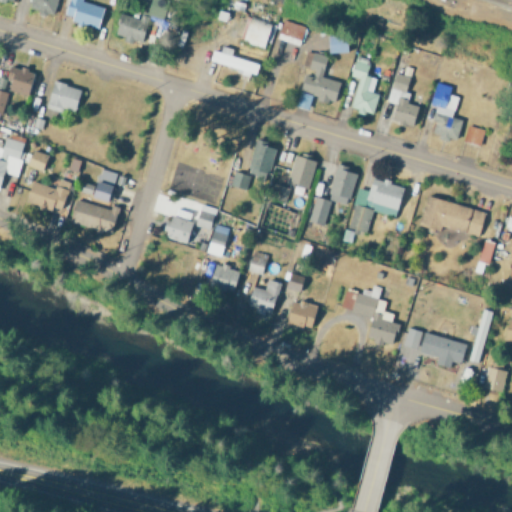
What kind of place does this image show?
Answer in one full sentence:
This looks like a residential area.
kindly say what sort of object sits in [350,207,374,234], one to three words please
building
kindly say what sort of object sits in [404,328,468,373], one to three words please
house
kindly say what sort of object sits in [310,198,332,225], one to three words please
building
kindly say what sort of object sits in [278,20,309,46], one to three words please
barn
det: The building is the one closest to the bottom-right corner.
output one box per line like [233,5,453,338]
[488,368,510,393]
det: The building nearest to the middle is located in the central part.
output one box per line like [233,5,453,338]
[249,252,268,275]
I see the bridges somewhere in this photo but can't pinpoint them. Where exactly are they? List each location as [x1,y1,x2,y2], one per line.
[354,412,404,512]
